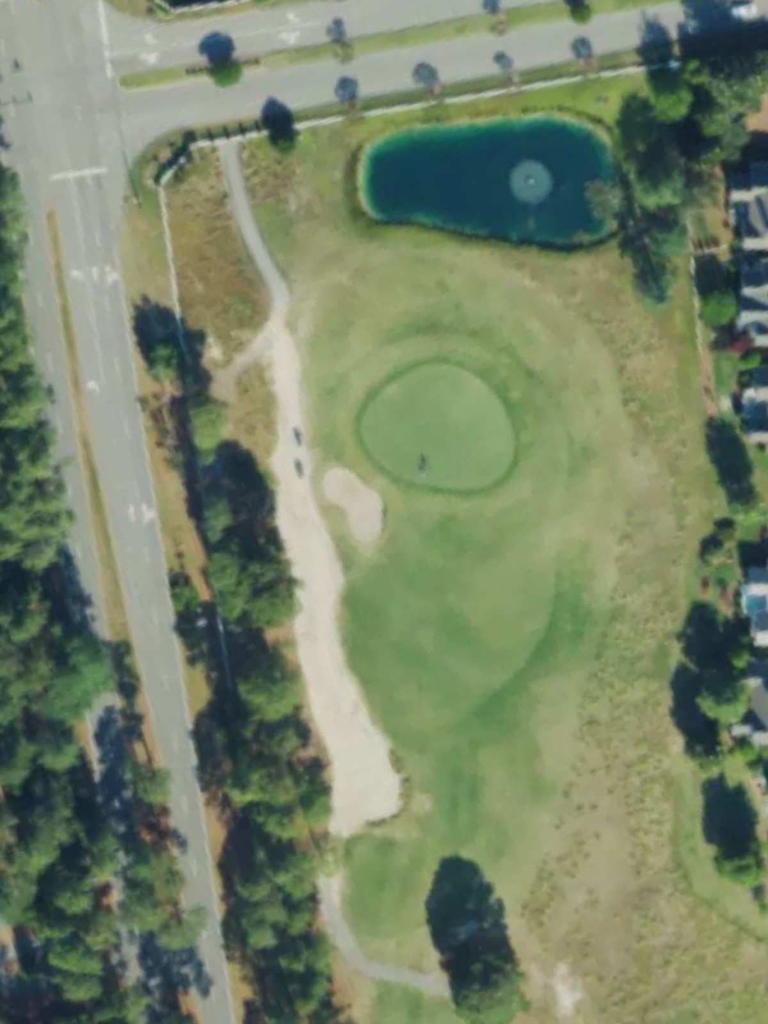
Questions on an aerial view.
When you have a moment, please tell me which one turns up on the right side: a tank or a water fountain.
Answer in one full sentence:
Visible on the right side is a water fountain.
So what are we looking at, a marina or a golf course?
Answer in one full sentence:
It's a golf course.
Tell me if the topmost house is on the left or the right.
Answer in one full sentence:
The topmost house is on the right side of the image.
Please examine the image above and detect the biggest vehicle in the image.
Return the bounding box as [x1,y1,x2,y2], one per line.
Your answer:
[732,4,758,17]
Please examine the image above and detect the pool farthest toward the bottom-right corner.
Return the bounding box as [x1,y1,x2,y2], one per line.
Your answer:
[740,589,768,626]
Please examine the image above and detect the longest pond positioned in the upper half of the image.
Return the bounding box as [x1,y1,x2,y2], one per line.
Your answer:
[358,113,620,245]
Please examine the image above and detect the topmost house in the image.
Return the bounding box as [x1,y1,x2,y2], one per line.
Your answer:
[728,170,768,257]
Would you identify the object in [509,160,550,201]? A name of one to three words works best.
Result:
fountain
